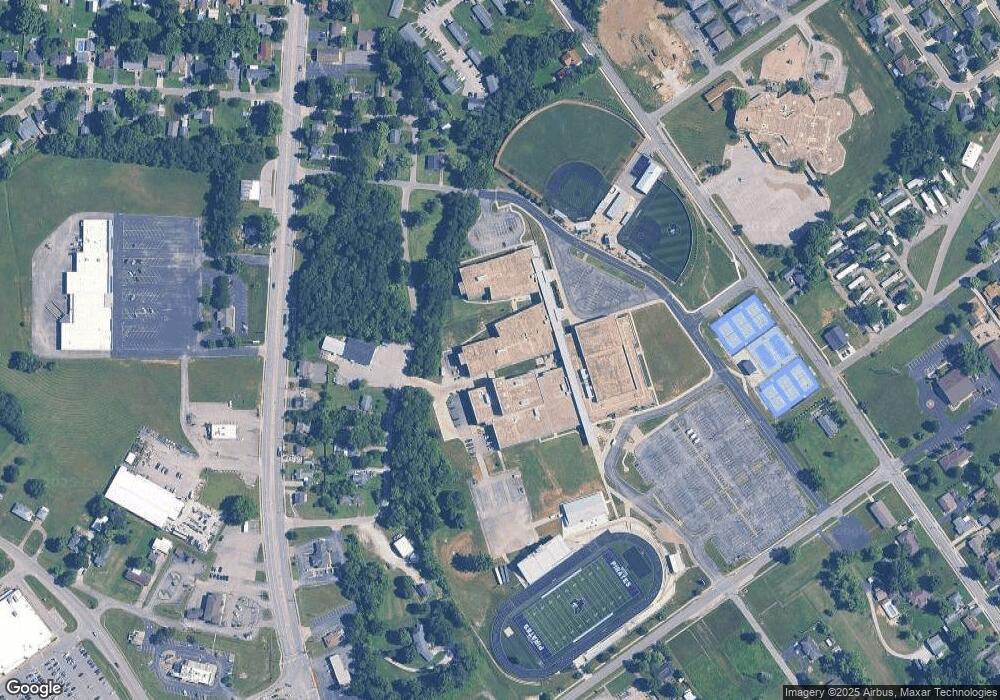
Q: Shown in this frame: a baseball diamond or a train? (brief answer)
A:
baseball diamond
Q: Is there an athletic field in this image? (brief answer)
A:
Yes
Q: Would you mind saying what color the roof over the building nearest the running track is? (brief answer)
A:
white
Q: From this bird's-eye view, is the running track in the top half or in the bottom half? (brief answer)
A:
bottom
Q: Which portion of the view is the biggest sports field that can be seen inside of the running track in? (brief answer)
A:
bottom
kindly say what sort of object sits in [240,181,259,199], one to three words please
building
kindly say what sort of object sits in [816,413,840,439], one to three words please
shed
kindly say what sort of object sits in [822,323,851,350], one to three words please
house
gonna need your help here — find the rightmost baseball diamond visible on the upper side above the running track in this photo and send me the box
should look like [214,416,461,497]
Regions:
[617,181,692,282]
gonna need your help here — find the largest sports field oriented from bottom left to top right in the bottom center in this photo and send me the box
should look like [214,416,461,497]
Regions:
[516,551,641,662]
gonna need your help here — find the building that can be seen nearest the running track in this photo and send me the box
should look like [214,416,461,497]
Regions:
[562,492,609,530]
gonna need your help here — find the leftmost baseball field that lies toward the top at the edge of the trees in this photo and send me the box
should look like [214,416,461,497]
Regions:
[494,101,645,223]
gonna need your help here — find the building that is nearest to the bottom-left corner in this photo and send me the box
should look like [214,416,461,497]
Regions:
[0,590,55,674]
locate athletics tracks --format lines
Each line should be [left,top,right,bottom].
[489,529,665,680]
